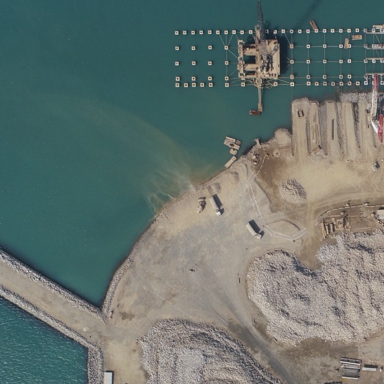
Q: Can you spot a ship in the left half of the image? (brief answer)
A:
No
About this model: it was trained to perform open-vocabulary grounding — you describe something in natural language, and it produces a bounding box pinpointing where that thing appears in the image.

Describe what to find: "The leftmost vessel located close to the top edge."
[236,1,279,80]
